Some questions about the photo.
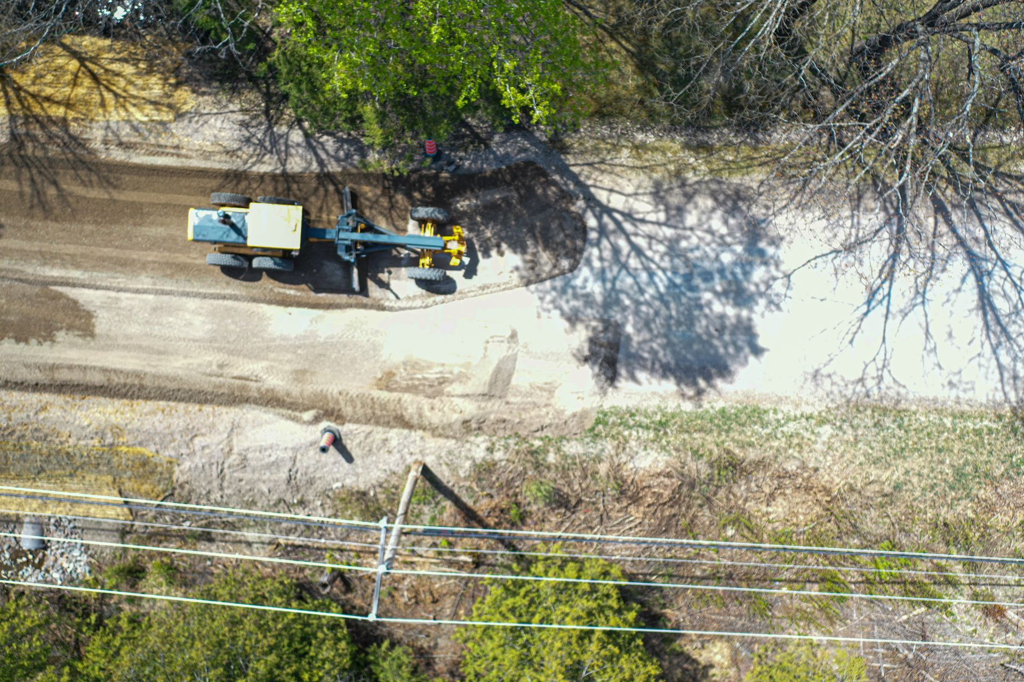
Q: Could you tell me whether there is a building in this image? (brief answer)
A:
No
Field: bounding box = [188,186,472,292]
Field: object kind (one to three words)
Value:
work vehicle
